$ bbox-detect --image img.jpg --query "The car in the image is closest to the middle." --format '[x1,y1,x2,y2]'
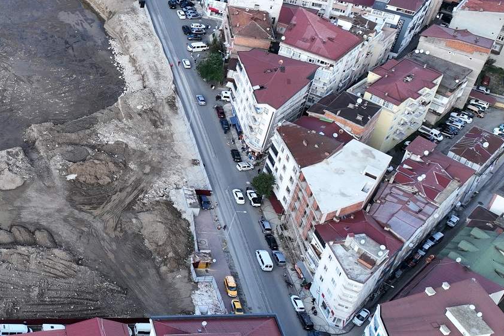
[236,159,255,172]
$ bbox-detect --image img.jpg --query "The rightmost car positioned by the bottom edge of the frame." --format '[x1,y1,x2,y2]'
[354,307,371,325]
